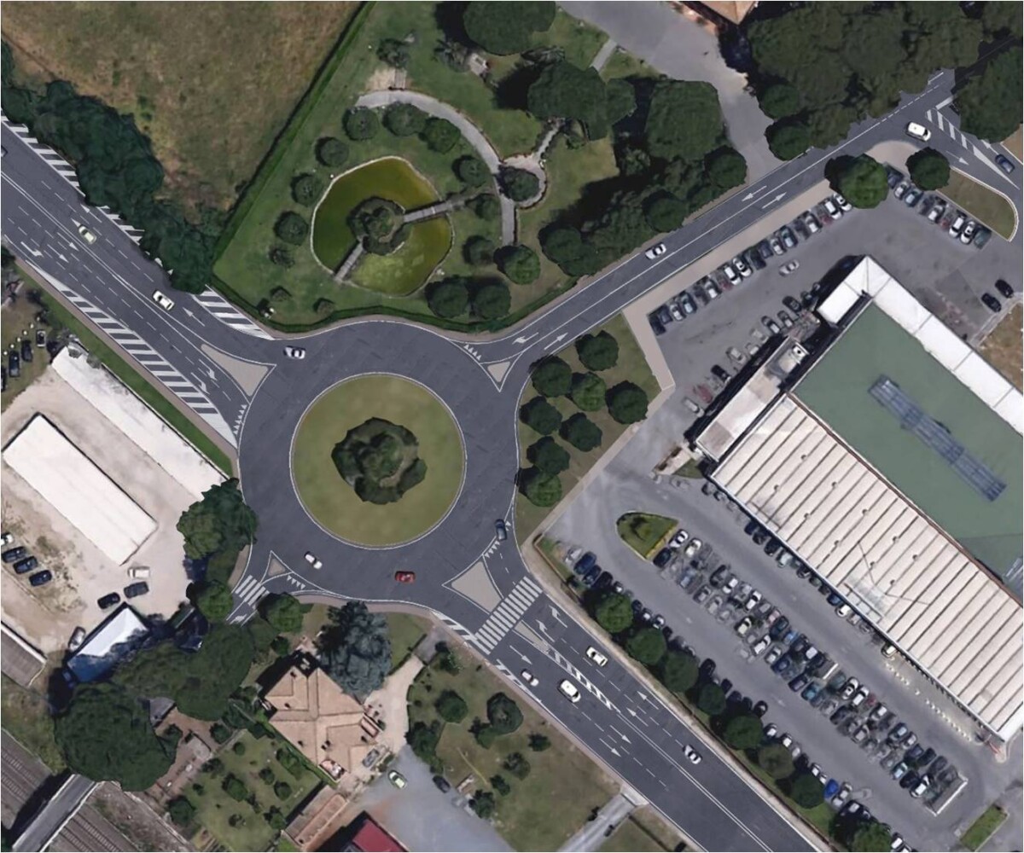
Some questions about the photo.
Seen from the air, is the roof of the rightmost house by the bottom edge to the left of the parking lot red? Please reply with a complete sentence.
Yes, red is the color of the roof of the rightmost house by the bottom edge to the left of the parking lot.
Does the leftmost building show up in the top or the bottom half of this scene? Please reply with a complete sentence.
It is in the bottom half that the leftmost building appears.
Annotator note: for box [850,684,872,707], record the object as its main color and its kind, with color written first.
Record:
white car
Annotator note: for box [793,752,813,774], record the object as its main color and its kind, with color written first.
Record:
black car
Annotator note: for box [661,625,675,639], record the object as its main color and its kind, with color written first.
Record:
black car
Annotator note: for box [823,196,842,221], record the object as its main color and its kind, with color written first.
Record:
white car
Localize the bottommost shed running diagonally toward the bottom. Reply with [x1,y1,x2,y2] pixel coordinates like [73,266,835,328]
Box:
[285,786,349,849]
